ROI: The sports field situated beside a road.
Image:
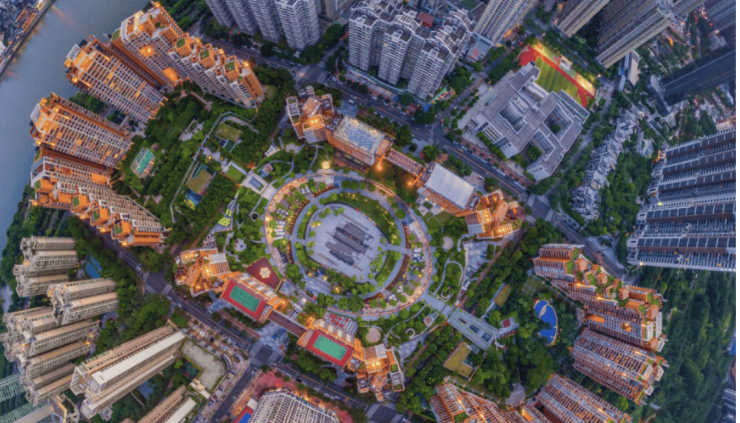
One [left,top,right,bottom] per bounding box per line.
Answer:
[519,42,599,111]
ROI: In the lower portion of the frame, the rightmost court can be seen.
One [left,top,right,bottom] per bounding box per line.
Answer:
[309,331,353,366]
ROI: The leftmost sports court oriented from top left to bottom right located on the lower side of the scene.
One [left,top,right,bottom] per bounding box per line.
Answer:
[223,281,266,317]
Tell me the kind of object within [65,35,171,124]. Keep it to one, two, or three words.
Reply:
building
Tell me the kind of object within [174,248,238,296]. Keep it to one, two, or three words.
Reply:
building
